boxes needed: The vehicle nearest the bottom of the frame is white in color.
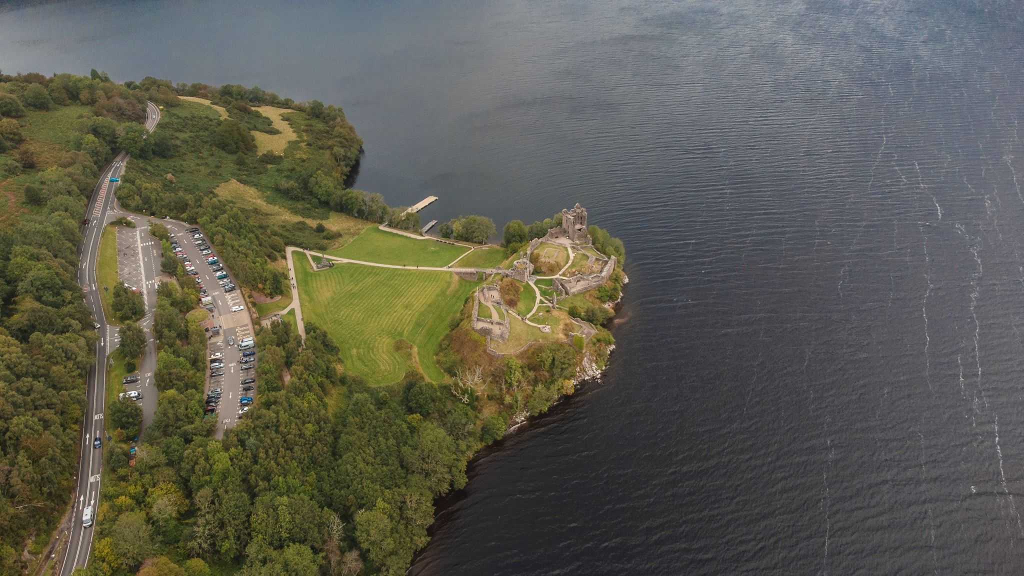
[84,505,96,528]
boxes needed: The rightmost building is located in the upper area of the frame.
[561,204,590,243]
